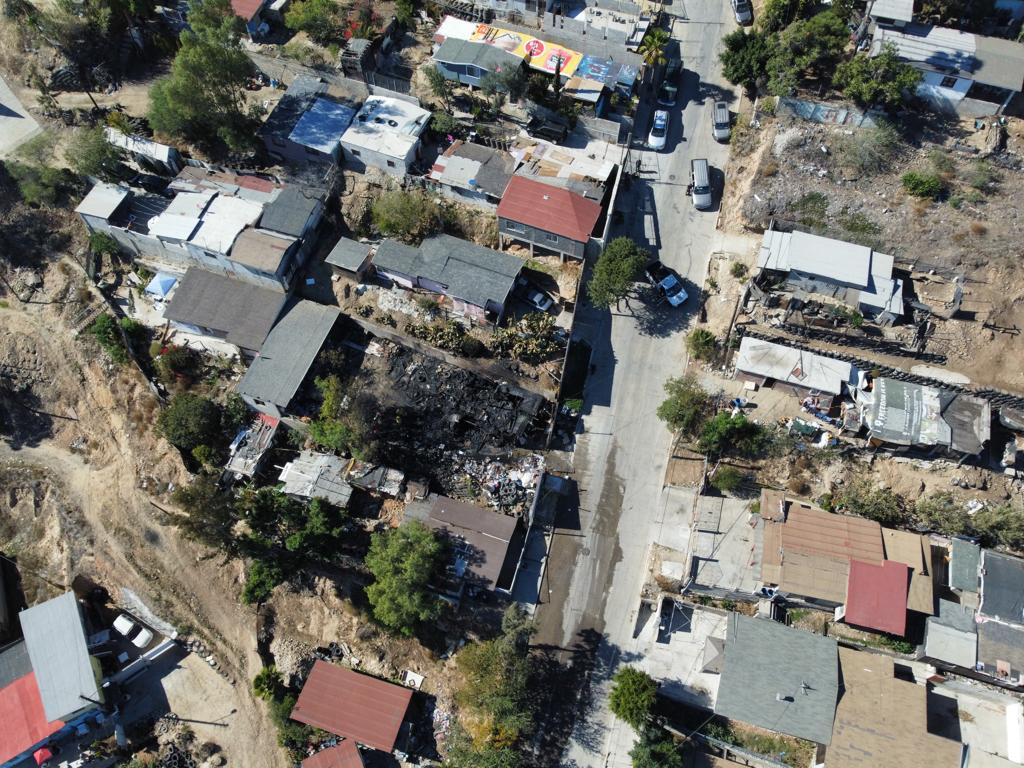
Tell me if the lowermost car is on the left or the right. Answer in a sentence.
The lowermost car is on the left side of the image.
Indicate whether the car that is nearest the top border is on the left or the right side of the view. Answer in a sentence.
The car that is nearest the top border sits on the right side.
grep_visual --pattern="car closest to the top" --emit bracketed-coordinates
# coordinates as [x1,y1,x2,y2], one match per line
[731,0,752,21]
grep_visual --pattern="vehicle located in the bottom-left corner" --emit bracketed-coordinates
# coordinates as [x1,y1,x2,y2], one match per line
[104,609,157,654]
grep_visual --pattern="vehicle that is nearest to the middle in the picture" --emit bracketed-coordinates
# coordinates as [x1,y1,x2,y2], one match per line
[514,273,560,316]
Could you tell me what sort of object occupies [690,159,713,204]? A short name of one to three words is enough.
vehicle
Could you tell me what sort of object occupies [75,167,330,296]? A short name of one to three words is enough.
house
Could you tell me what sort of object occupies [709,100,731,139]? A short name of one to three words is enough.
car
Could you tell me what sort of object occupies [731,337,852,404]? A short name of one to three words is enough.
building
